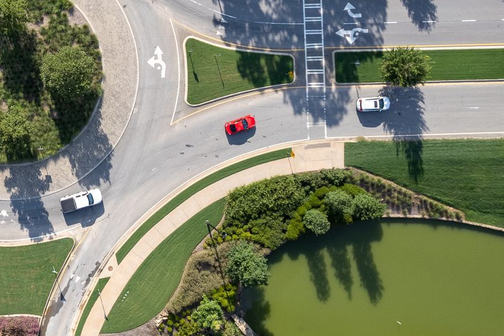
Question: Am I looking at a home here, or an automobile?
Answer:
automobile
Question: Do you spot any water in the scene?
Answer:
Yes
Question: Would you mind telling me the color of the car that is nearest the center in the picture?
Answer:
red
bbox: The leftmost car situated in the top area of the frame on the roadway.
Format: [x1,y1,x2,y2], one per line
[223,115,256,135]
